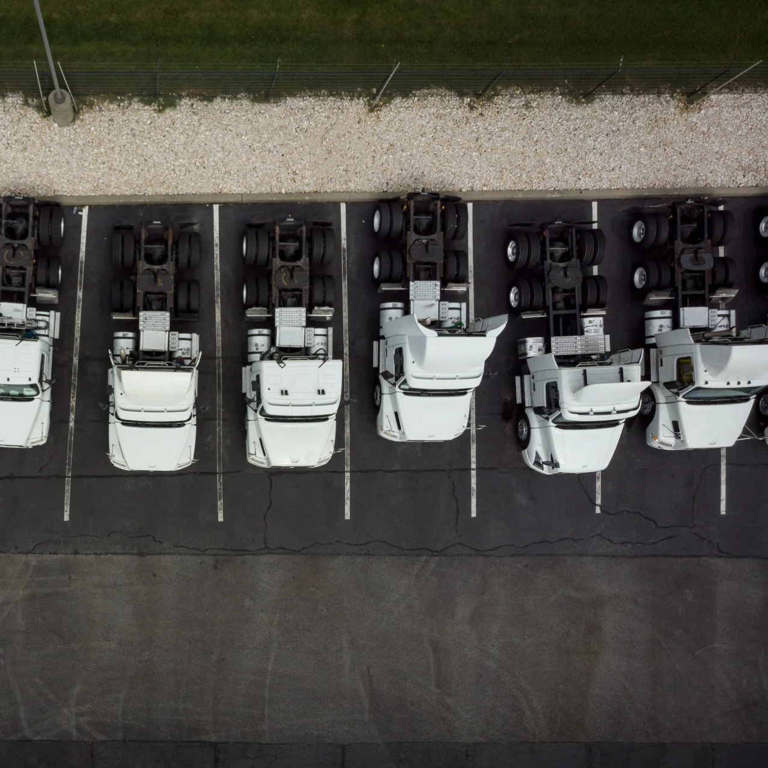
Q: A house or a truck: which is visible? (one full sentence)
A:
It is a truck that can be seen here.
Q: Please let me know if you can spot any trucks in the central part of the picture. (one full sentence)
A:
Yes, a truck can be seen in the central part of the picture.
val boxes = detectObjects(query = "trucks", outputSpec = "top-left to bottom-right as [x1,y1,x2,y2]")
[97,216,210,474]
[373,186,506,446]
[0,191,65,450]
[242,213,356,471]
[630,195,768,453]
[504,217,649,477]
